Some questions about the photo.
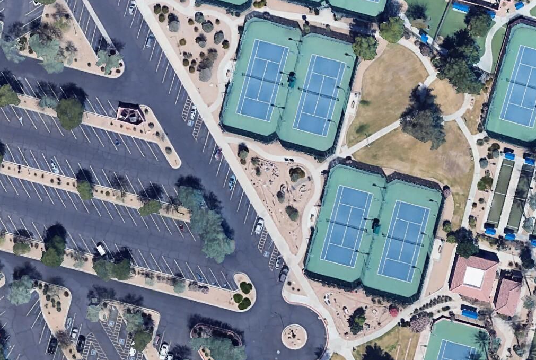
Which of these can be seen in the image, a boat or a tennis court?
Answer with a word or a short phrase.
tennis court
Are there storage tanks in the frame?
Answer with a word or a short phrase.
No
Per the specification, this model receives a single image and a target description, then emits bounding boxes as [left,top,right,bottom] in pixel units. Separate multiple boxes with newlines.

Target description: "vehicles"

[146,33,155,48]
[15,114,24,126]
[0,329,6,341]
[153,332,162,347]
[273,253,283,269]
[213,146,223,161]
[227,174,236,190]
[254,217,265,235]
[158,343,169,360]
[112,136,122,149]
[166,353,174,360]
[77,336,85,351]
[189,104,197,120]
[279,266,289,281]
[94,242,107,257]
[47,339,57,354]
[70,327,78,342]
[127,342,135,357]
[49,159,60,174]
[177,221,186,234]
[127,0,138,15]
